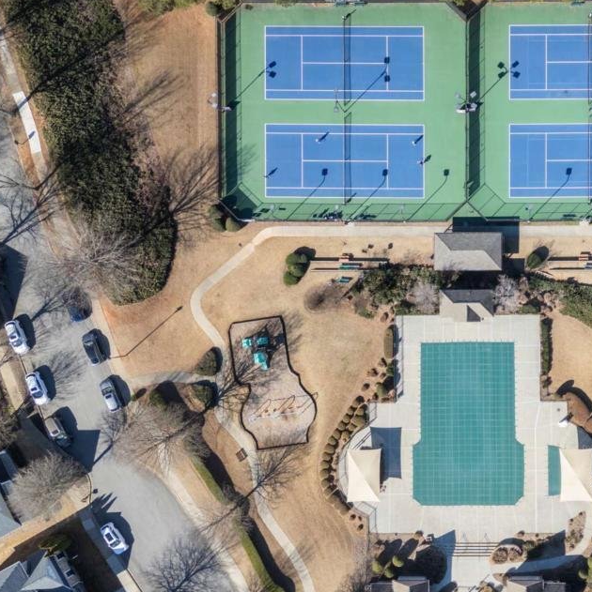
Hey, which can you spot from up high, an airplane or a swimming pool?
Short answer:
swimming pool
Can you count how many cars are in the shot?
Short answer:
seven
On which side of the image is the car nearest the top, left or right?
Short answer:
left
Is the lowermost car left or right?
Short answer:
left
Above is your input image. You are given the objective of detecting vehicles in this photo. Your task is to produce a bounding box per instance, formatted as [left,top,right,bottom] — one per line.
[25,372,47,405]
[81,329,105,364]
[6,321,29,354]
[101,522,125,556]
[99,377,121,412]
[45,414,70,447]
[68,288,89,321]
